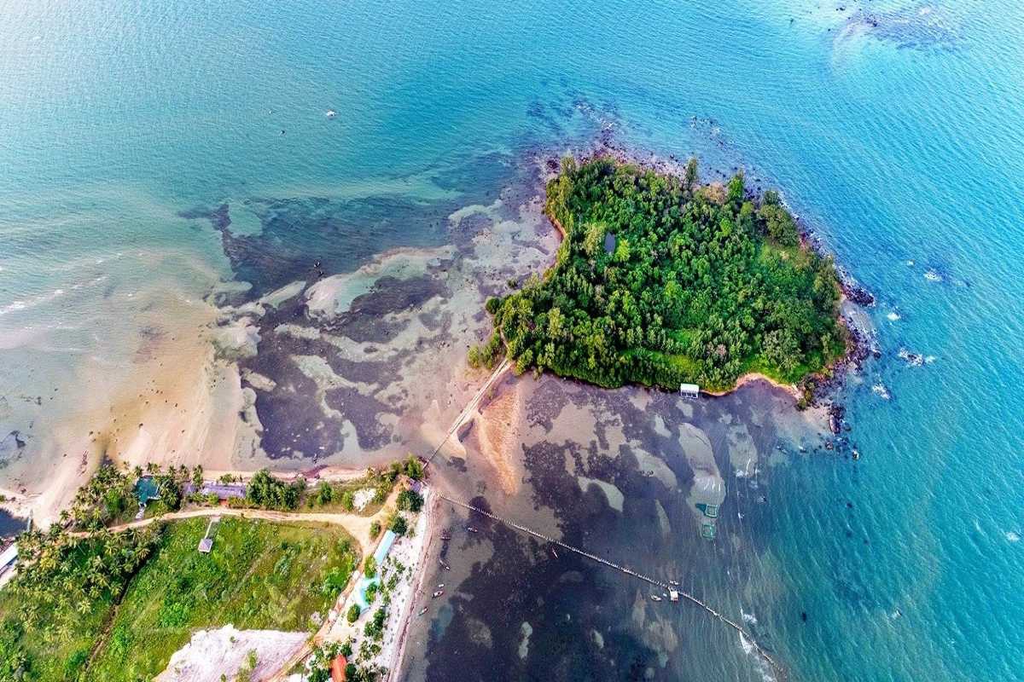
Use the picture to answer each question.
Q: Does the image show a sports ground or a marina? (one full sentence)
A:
It's a marina.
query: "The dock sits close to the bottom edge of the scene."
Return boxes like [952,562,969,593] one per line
[438,494,780,670]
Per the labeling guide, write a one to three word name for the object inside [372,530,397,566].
house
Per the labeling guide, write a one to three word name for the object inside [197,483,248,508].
house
